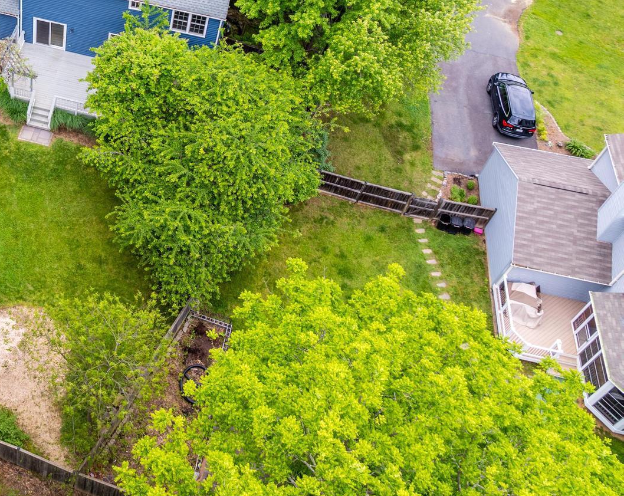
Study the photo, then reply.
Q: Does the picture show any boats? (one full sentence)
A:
No, the scene contains no boat.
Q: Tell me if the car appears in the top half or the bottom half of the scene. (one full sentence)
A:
Seen from above, the car lies in the top half of the view.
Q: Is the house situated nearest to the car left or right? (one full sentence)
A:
You can find the house situated nearest to the car on the right side of the picture.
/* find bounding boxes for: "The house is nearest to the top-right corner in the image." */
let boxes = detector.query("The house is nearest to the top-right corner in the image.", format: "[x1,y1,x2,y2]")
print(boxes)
[477,133,624,298]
